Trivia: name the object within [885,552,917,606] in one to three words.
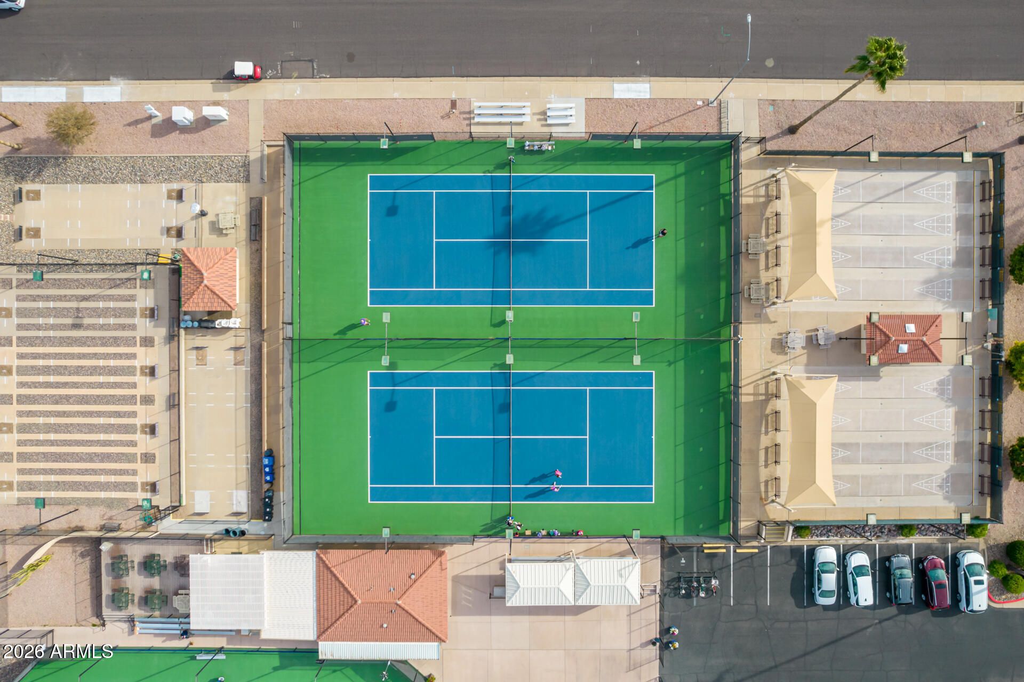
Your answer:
car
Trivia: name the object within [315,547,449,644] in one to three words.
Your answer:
building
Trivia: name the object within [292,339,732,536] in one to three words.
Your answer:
tennis court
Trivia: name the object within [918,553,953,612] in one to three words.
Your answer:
car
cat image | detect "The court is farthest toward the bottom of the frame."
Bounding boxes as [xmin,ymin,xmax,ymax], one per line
[22,648,411,682]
